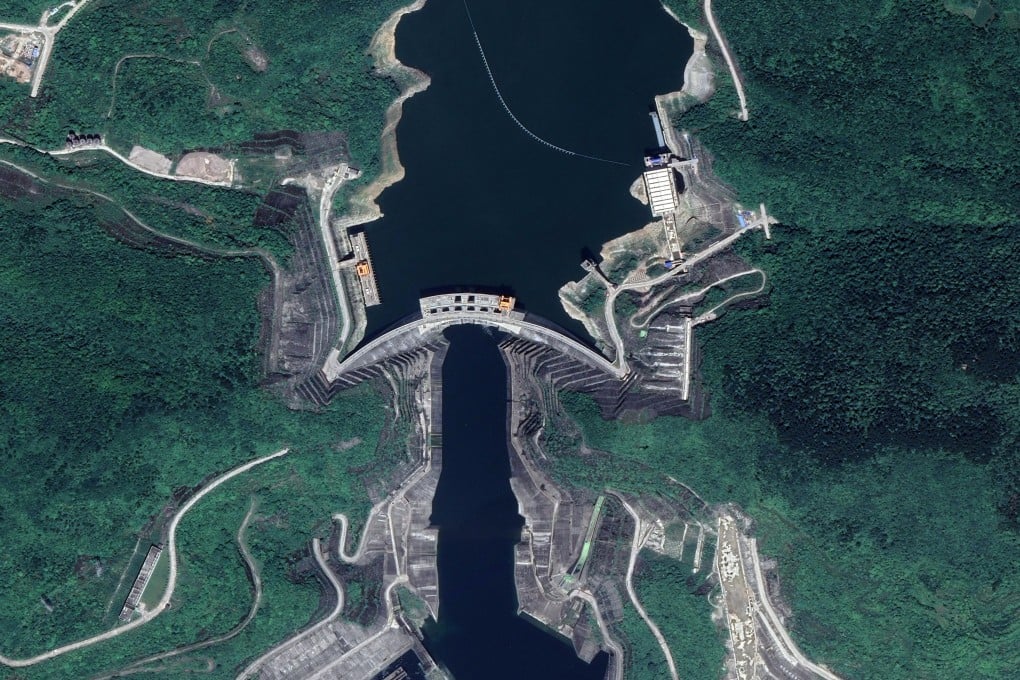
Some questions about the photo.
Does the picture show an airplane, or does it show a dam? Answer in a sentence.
Looking from above, you can make out a dam.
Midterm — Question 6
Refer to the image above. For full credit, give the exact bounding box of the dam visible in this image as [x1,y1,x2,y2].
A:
[325,293,631,382]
